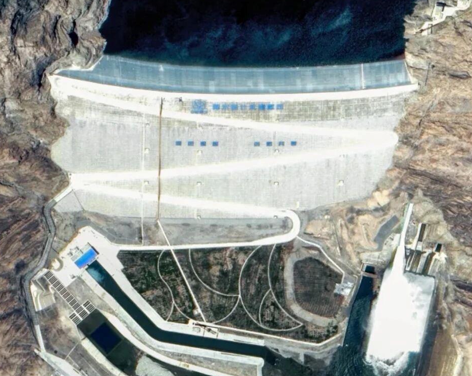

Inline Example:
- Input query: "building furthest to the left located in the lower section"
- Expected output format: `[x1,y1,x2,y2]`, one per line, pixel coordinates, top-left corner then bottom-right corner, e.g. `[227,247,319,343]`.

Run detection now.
[72,244,100,270]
